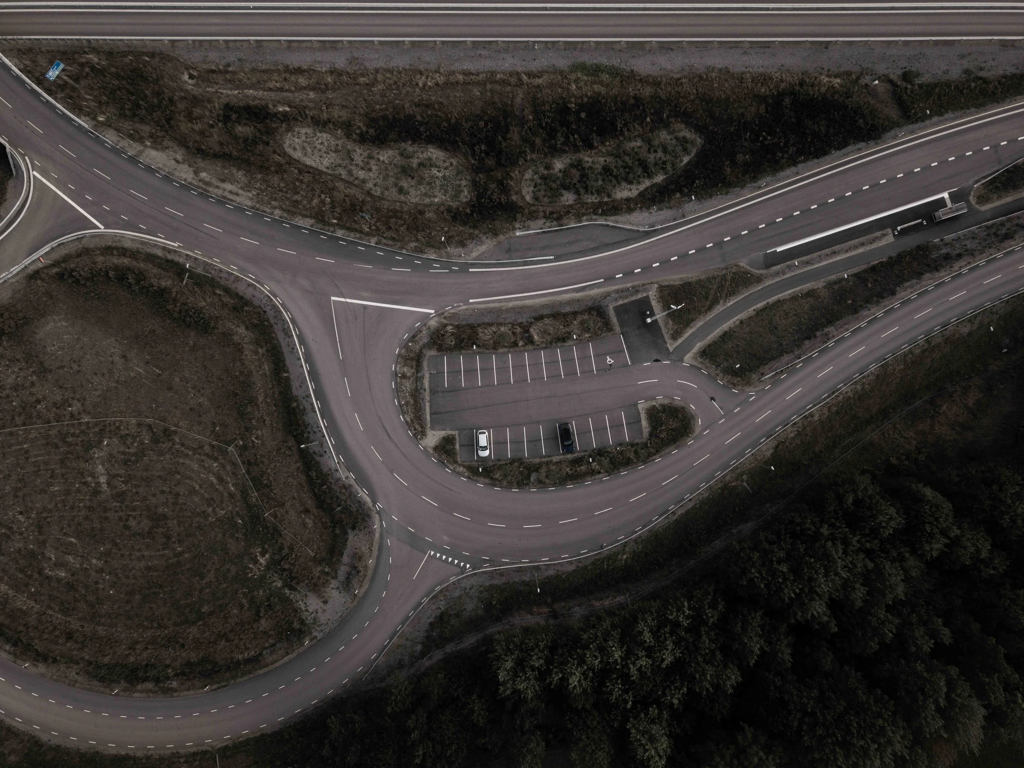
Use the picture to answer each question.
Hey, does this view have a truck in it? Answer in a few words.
No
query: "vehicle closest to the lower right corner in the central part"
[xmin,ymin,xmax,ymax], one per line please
[559,423,575,452]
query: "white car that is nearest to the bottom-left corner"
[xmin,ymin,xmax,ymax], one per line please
[477,430,490,457]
